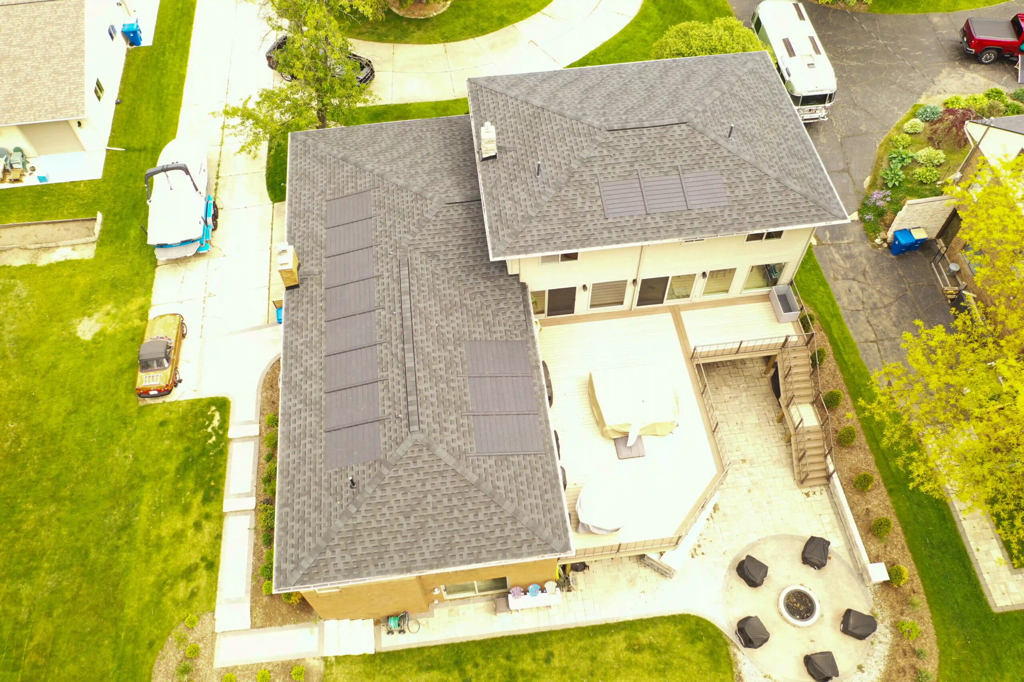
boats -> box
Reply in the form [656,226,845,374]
[143,137,209,261]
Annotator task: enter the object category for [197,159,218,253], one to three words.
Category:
trailer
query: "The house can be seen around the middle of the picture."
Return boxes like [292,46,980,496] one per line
[264,49,852,617]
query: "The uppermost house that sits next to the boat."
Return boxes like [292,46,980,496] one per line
[0,0,141,158]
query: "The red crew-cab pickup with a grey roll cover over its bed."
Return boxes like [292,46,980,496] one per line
[961,17,1024,69]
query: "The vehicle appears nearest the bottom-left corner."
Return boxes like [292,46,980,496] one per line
[135,311,194,396]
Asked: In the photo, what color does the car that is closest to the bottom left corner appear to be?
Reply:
yellow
